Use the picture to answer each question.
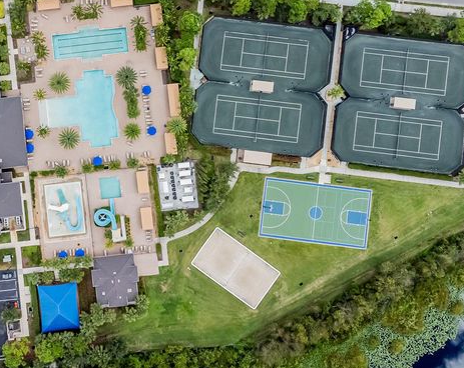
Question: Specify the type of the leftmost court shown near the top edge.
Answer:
tennis court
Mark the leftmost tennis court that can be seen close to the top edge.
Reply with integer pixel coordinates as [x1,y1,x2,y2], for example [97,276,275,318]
[198,18,331,93]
